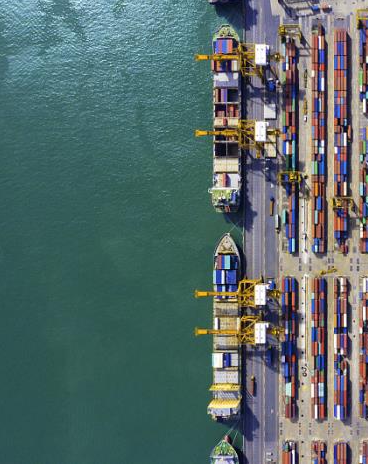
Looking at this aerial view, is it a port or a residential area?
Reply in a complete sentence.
The picture captures a port.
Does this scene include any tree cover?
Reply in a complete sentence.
No, there is no tree cover in the image.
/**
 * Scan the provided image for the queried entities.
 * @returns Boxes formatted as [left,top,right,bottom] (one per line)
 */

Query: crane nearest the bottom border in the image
[194,312,282,344]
